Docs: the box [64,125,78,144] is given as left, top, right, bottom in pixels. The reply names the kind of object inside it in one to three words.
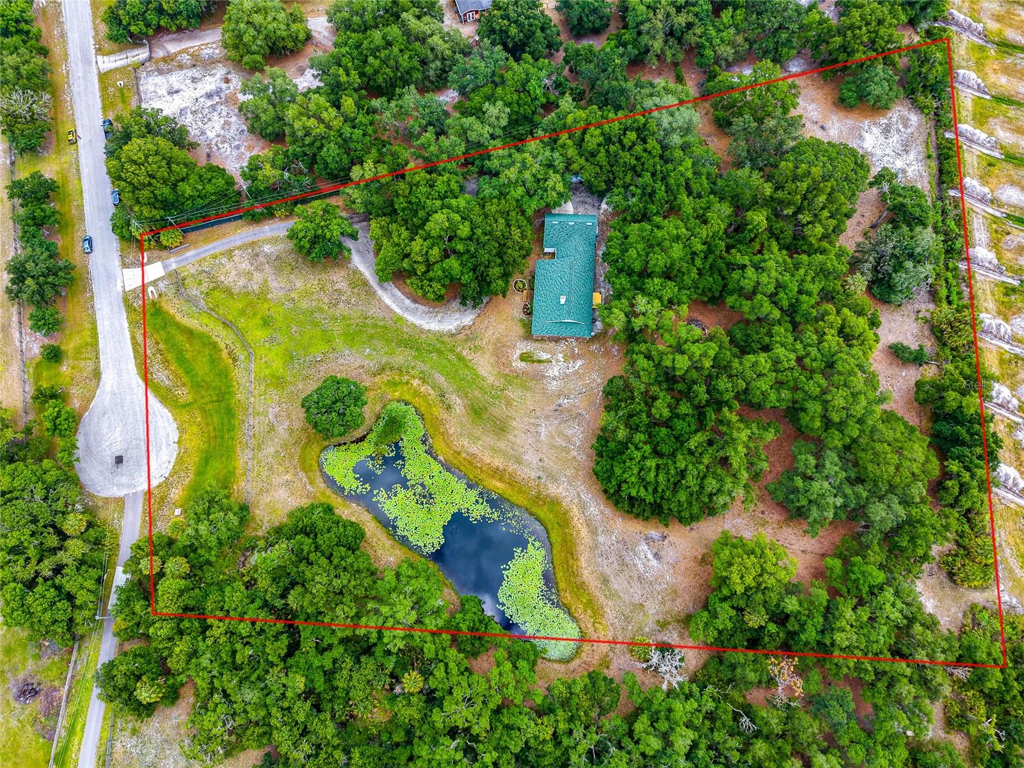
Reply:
car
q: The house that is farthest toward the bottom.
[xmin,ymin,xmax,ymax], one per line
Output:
[532,213,596,342]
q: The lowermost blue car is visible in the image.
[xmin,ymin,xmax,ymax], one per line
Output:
[81,232,94,253]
